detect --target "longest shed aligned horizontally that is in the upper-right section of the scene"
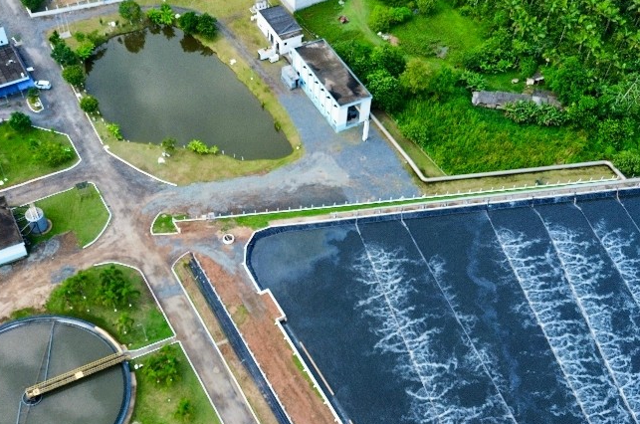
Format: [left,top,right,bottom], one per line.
[474,87,550,115]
